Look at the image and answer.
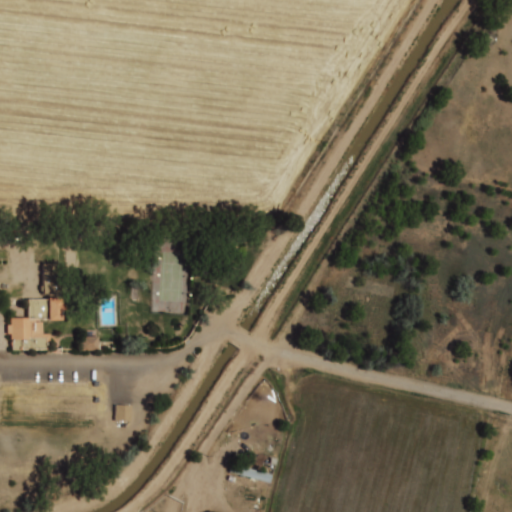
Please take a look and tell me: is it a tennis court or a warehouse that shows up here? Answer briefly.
tennis court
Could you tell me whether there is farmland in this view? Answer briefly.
Yes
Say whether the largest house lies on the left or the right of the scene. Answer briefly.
left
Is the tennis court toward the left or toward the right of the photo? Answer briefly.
left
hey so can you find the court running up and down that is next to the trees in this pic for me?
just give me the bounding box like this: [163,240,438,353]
[152,240,188,313]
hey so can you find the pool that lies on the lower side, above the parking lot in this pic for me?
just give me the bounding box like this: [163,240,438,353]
[101,298,116,326]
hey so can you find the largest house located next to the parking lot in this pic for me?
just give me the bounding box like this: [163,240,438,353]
[6,299,64,350]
